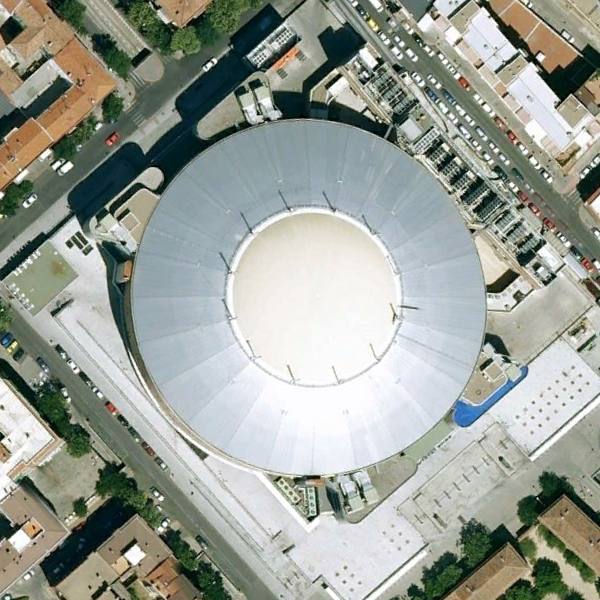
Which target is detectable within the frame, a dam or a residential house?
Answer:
residential house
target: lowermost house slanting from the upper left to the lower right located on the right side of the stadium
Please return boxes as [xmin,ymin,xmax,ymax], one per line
[537,495,600,577]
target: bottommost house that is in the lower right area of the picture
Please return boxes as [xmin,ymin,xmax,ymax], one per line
[441,542,530,600]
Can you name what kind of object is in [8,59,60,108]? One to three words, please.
house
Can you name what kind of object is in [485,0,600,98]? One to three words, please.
building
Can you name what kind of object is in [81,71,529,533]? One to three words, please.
stadium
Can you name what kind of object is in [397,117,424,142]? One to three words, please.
building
